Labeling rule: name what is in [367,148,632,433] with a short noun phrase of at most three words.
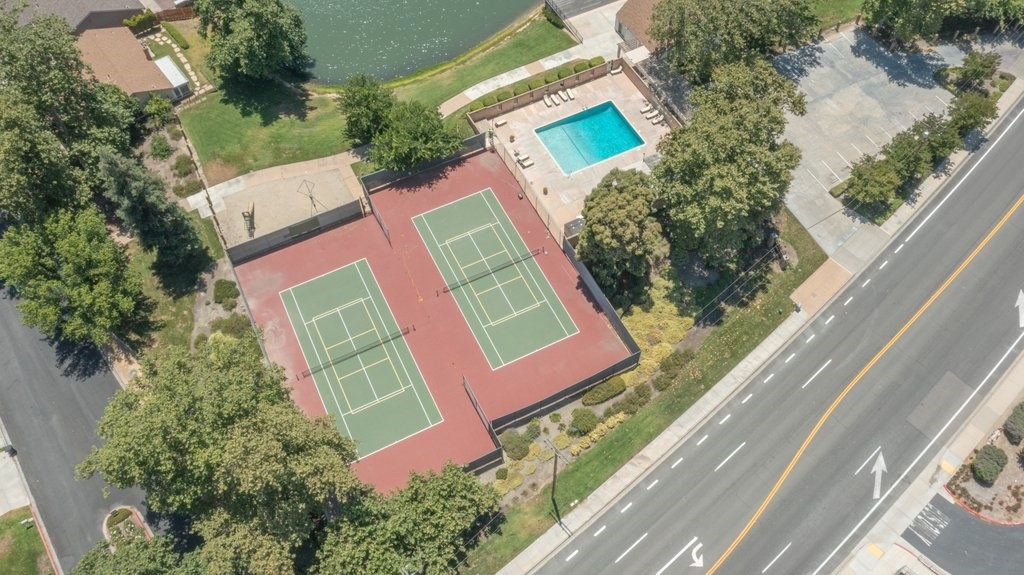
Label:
tennis court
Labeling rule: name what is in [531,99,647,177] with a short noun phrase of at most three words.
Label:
swimming pool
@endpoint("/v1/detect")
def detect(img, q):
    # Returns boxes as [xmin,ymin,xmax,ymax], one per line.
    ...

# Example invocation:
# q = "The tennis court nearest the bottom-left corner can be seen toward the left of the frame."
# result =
[233,211,500,527]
